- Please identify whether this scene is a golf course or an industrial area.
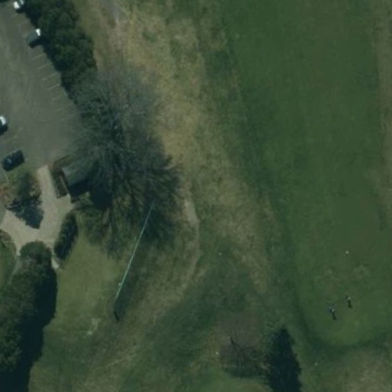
golf course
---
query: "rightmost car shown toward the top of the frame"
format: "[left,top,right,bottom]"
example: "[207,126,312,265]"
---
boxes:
[23,27,45,43]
